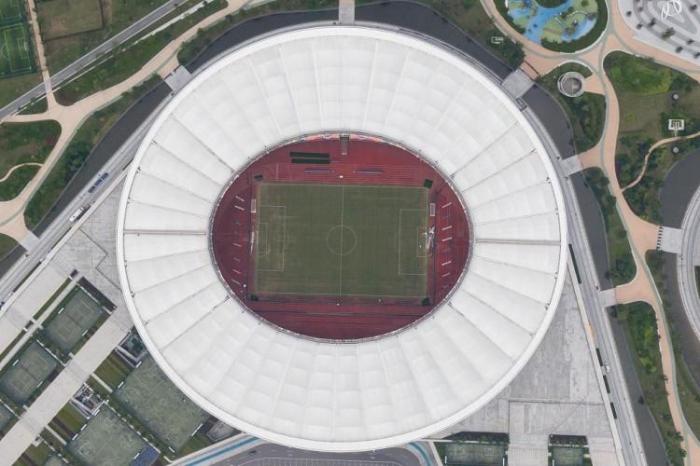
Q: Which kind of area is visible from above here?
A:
sports ground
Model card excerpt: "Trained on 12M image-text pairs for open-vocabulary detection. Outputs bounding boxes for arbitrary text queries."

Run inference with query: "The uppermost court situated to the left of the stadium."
[46,290,104,350]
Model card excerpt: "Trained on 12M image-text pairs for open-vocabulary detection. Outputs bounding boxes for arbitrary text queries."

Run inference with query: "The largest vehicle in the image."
[68,204,84,222]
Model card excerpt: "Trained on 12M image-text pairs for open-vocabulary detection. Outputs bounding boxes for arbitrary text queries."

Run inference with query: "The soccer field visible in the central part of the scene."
[254,181,430,299]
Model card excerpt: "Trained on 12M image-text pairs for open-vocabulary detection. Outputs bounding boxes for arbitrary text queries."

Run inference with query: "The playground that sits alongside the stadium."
[495,0,604,53]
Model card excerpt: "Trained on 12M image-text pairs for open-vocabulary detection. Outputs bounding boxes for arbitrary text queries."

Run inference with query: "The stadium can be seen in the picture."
[117,26,566,451]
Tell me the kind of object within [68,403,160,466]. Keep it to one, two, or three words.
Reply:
sports court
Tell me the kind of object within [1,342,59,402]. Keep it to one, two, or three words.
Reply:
sports court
